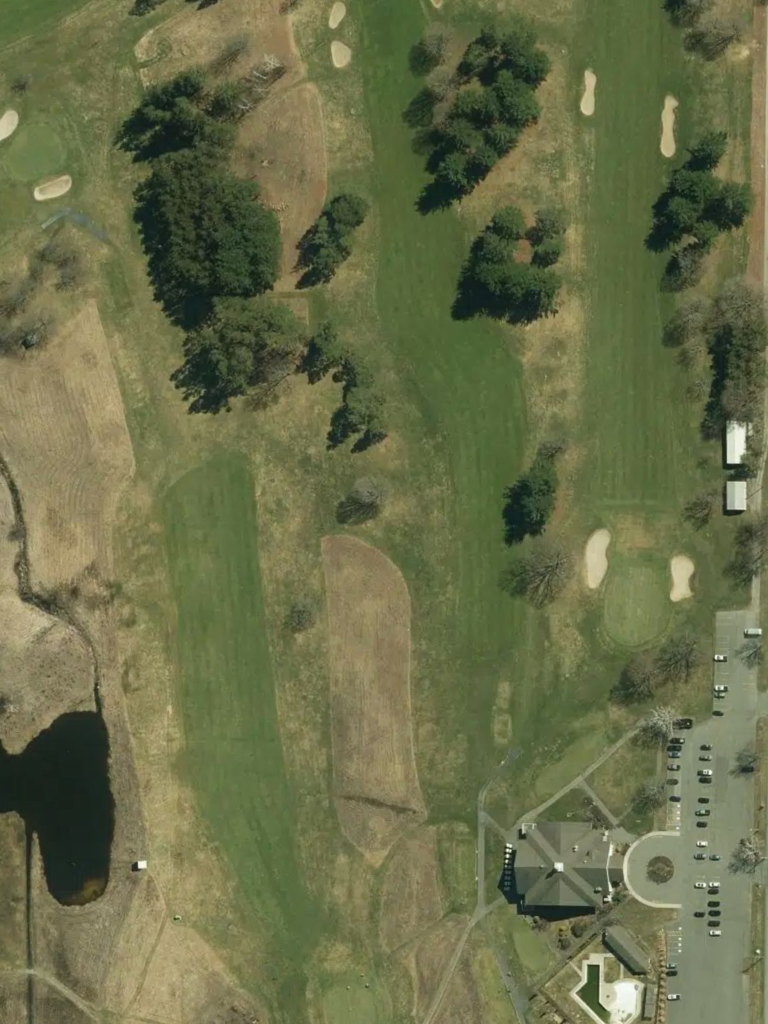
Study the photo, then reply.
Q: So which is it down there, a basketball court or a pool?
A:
pool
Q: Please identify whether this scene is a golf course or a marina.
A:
golf course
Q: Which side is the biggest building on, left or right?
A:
right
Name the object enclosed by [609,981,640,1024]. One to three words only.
swimming pool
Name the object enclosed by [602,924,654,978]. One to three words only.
building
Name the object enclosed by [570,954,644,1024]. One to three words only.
swimming pool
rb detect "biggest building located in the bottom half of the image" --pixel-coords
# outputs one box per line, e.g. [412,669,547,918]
[516,823,623,907]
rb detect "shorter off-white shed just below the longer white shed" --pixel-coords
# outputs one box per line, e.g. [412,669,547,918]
[727,481,747,510]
